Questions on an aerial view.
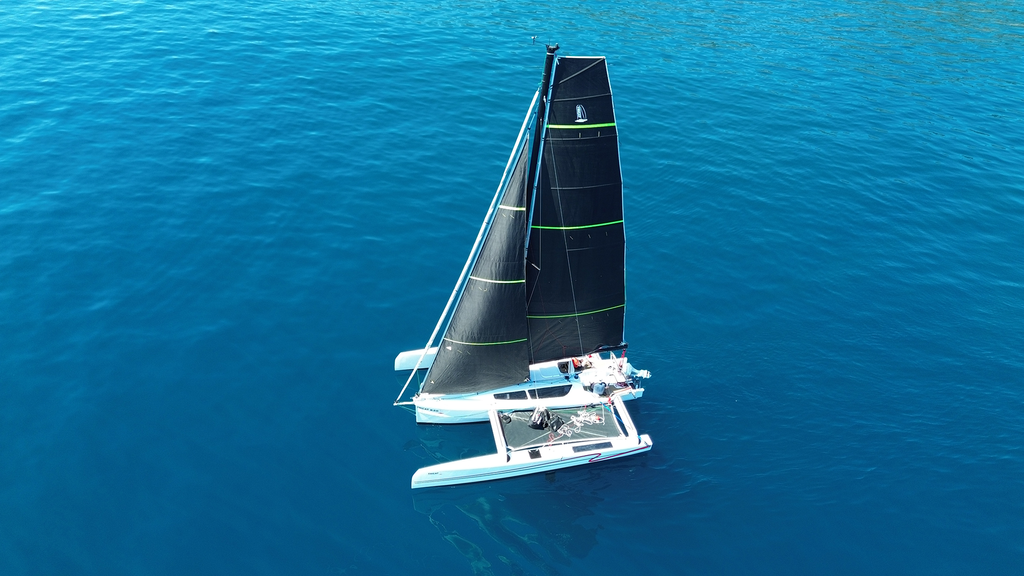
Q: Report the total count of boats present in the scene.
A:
1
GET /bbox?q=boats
[393,35,652,489]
